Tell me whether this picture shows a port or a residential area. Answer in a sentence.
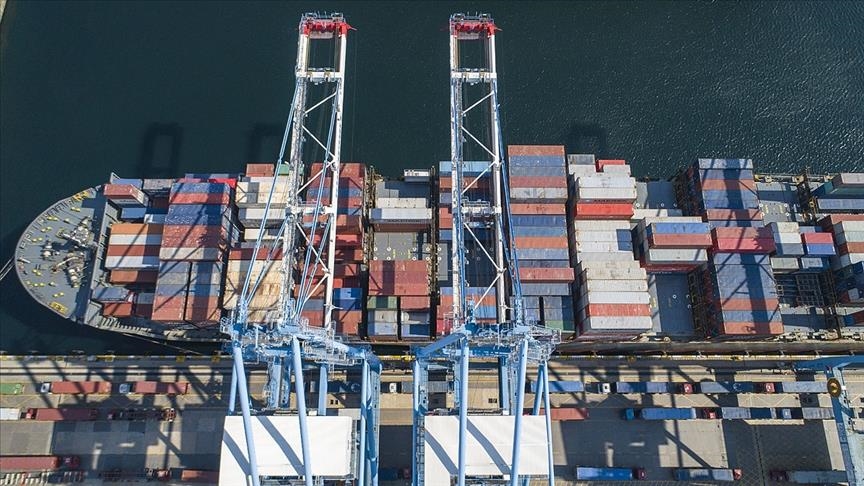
This looks like a port.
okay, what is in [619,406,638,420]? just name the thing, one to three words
vehicle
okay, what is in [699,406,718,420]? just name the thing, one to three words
vehicle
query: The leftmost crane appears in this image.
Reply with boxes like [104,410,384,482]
[216,9,403,486]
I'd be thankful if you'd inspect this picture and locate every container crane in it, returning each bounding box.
[786,362,864,486]
[407,9,565,486]
[216,9,403,486]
